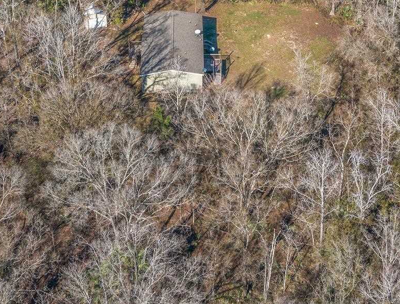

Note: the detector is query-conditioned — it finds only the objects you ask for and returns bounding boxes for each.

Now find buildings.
[87,1,109,29]
[139,10,203,90]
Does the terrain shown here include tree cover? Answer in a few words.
Yes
